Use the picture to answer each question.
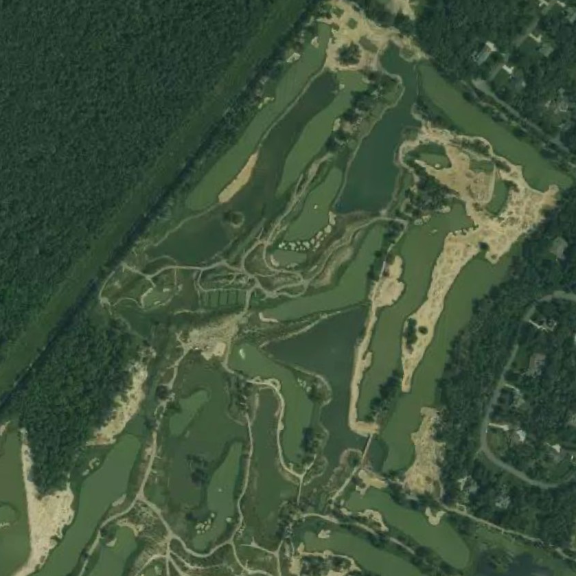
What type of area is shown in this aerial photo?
golf course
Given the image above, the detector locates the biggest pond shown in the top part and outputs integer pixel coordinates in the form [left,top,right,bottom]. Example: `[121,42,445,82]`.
[336,44,422,212]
